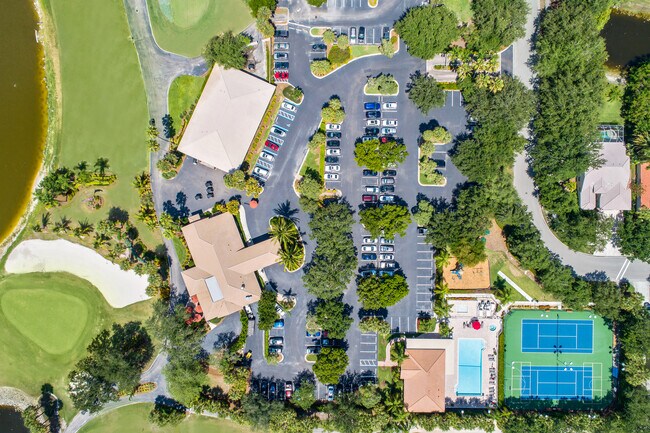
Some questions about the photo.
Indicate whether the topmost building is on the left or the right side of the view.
left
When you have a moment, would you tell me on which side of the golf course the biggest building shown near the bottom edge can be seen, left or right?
on the right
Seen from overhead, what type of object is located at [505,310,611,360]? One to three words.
tennis court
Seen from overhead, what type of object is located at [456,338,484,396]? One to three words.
swimming pool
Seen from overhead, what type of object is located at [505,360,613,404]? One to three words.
tennis court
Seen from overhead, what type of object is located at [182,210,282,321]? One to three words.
building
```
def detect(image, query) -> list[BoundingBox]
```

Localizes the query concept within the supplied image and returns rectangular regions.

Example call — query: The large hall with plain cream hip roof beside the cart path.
[180,65,275,172]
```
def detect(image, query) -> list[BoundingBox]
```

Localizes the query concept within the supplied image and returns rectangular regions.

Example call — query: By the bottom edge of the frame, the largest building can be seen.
[400,348,445,412]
